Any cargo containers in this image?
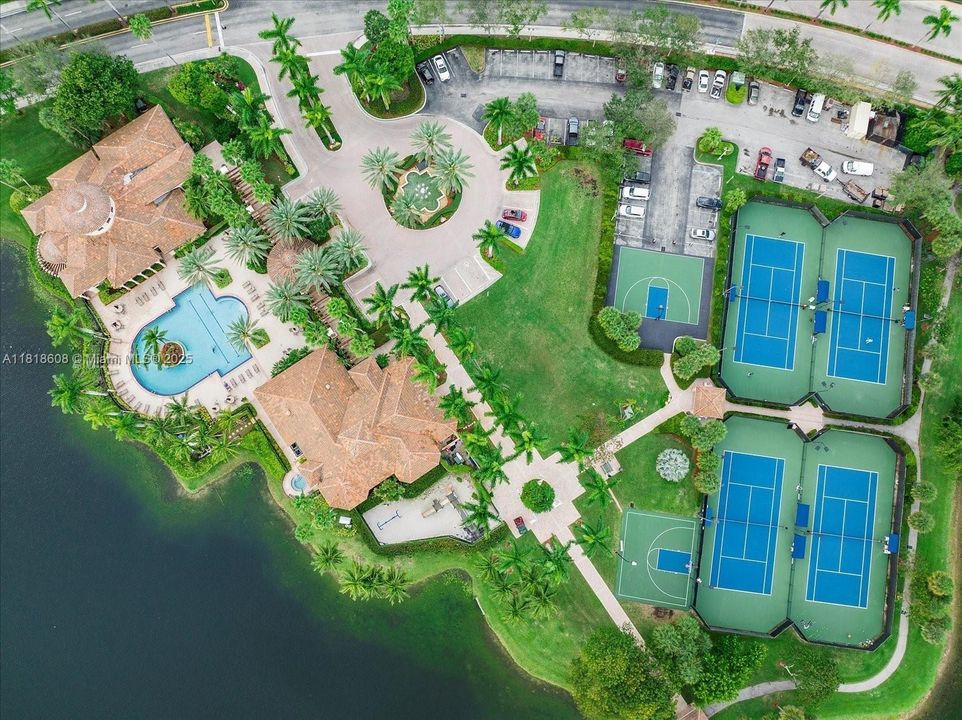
Yes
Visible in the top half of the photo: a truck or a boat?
truck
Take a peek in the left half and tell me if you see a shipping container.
No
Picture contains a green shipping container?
No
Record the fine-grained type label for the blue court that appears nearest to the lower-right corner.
tennis court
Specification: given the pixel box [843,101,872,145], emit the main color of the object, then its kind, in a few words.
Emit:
white shipping container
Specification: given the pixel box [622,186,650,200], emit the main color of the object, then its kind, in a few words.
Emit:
white car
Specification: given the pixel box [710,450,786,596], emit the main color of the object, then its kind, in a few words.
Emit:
blue tennis court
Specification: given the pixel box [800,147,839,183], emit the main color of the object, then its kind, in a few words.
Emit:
white truck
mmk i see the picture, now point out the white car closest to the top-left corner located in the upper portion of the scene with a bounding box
[434,54,450,83]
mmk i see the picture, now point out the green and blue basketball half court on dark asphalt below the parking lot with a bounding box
[605,244,715,353]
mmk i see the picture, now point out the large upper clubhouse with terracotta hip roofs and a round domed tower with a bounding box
[20,103,209,298]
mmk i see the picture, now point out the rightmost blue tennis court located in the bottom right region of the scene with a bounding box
[806,464,882,609]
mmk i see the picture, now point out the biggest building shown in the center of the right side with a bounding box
[689,386,727,417]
